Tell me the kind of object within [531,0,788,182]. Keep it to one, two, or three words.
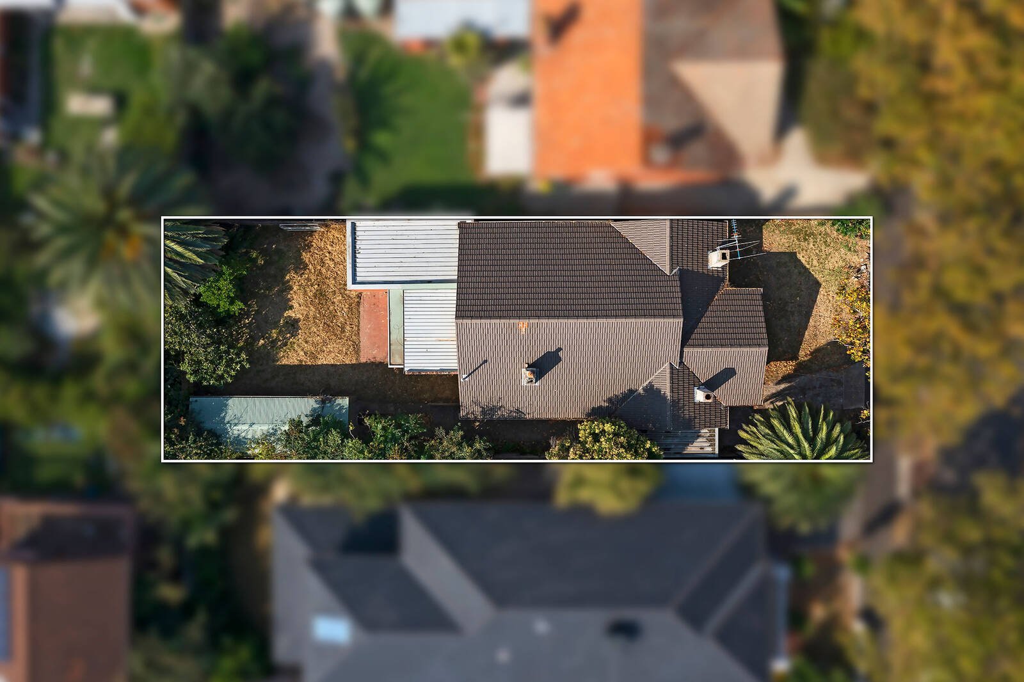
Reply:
house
